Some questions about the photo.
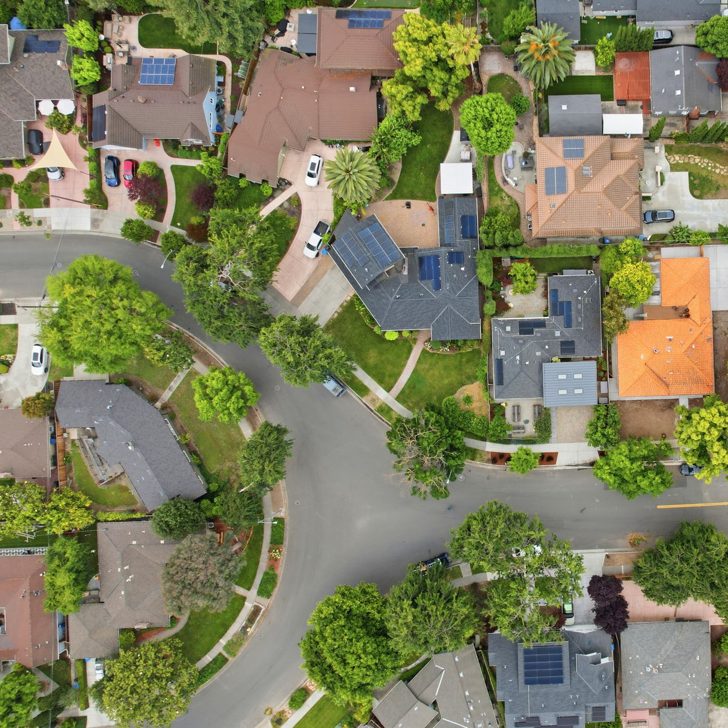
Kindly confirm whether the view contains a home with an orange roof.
Yes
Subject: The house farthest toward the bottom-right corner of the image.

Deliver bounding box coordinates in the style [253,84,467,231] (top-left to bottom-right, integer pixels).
[621,617,712,728]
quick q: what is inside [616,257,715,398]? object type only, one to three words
house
